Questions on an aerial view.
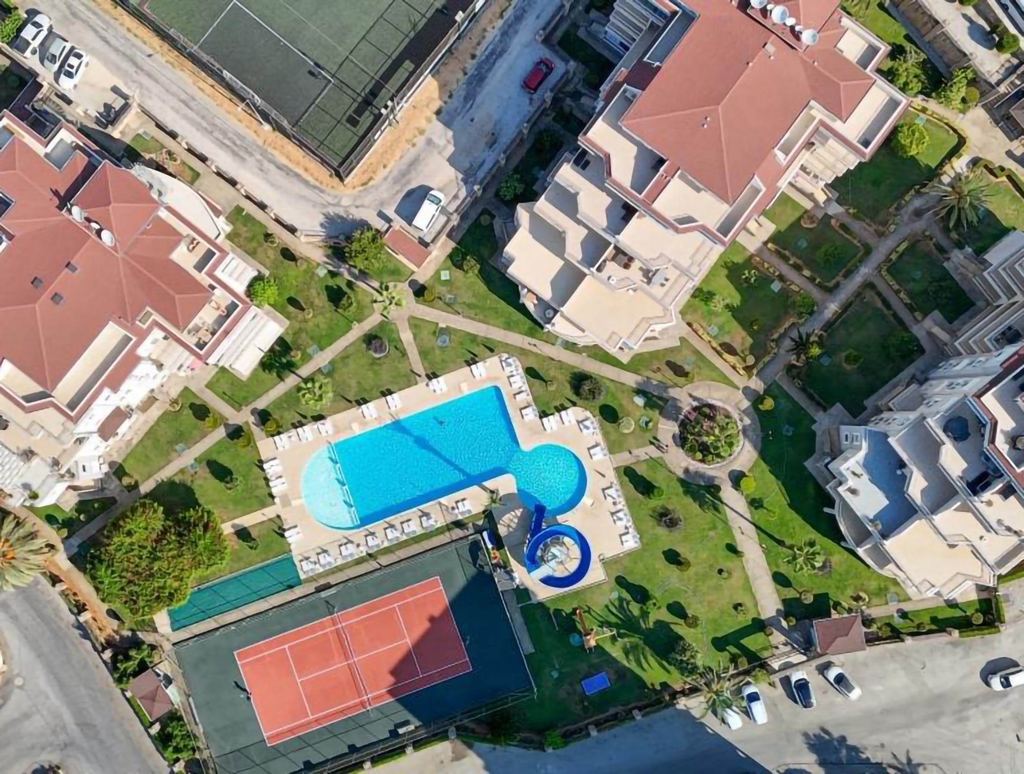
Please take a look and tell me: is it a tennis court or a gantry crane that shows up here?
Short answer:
tennis court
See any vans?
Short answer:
Yes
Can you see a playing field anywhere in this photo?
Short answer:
Yes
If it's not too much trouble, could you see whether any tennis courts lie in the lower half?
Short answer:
Yes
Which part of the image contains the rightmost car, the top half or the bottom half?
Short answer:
bottom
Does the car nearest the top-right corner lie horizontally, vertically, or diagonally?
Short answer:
diagonally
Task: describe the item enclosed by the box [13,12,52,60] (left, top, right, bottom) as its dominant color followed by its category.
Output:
white truck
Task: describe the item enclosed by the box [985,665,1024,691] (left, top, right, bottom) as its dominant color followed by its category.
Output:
white car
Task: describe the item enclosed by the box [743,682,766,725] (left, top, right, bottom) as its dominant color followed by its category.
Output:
white car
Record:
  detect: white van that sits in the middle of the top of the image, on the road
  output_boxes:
[410,188,444,232]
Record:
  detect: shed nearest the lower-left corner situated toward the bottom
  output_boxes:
[127,665,181,722]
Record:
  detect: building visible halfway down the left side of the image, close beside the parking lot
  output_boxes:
[0,108,287,507]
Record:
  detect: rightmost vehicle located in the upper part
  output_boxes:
[522,58,554,95]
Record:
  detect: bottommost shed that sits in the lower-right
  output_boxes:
[807,611,867,655]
